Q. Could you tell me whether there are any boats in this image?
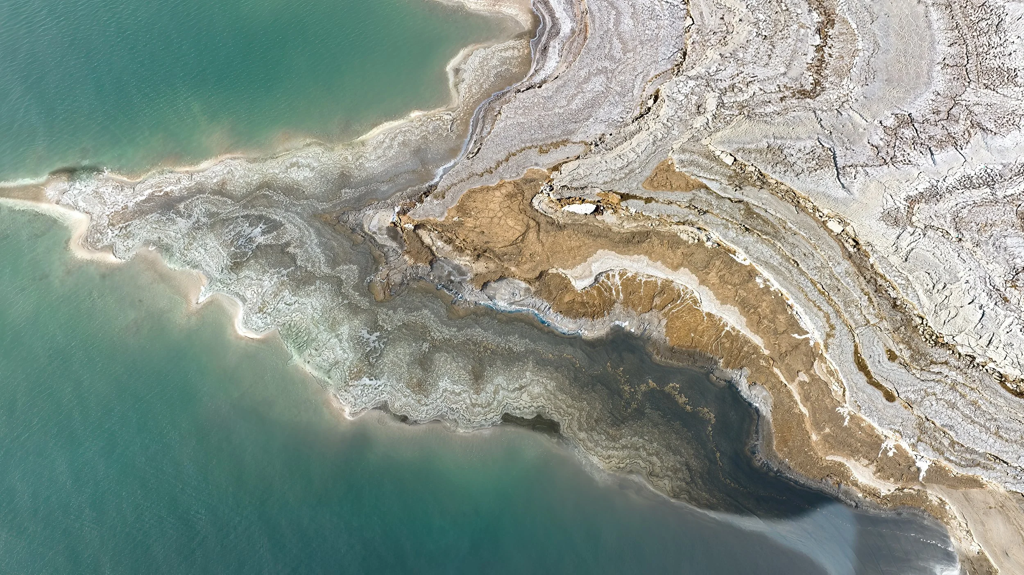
No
